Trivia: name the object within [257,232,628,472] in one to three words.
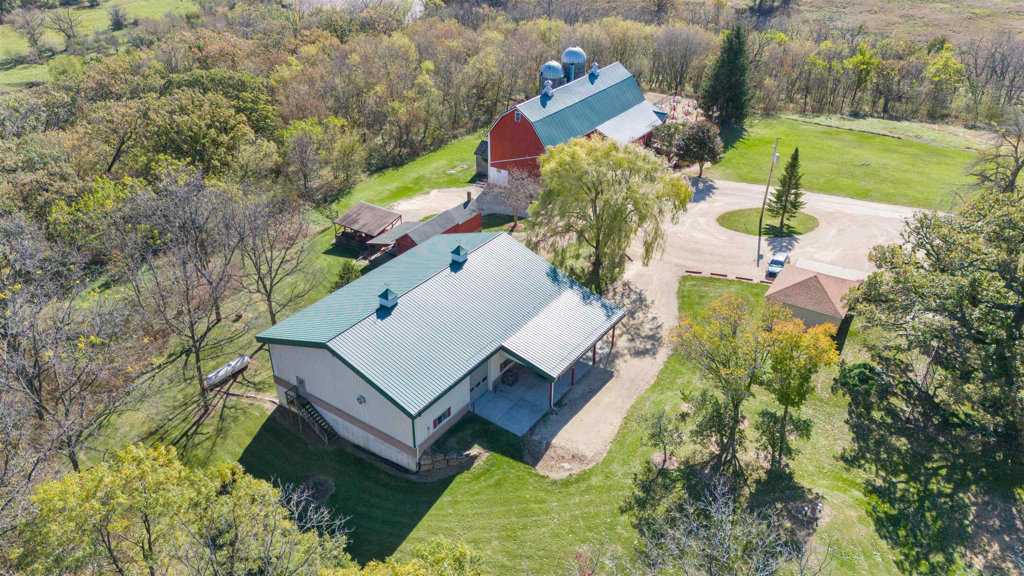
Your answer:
building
